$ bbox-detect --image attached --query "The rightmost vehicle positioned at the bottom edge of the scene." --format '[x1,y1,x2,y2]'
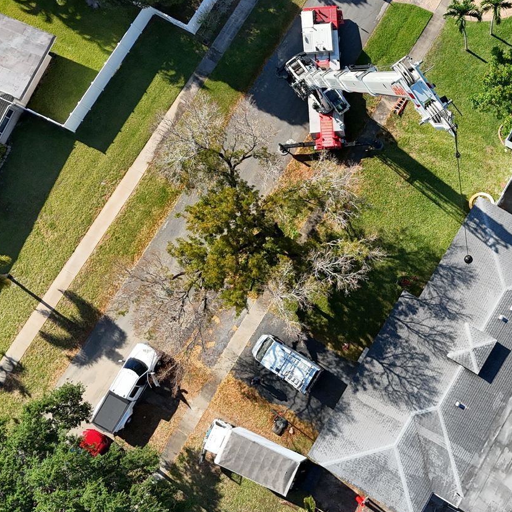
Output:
[197,414,308,497]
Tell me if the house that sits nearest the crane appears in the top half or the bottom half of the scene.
bottom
